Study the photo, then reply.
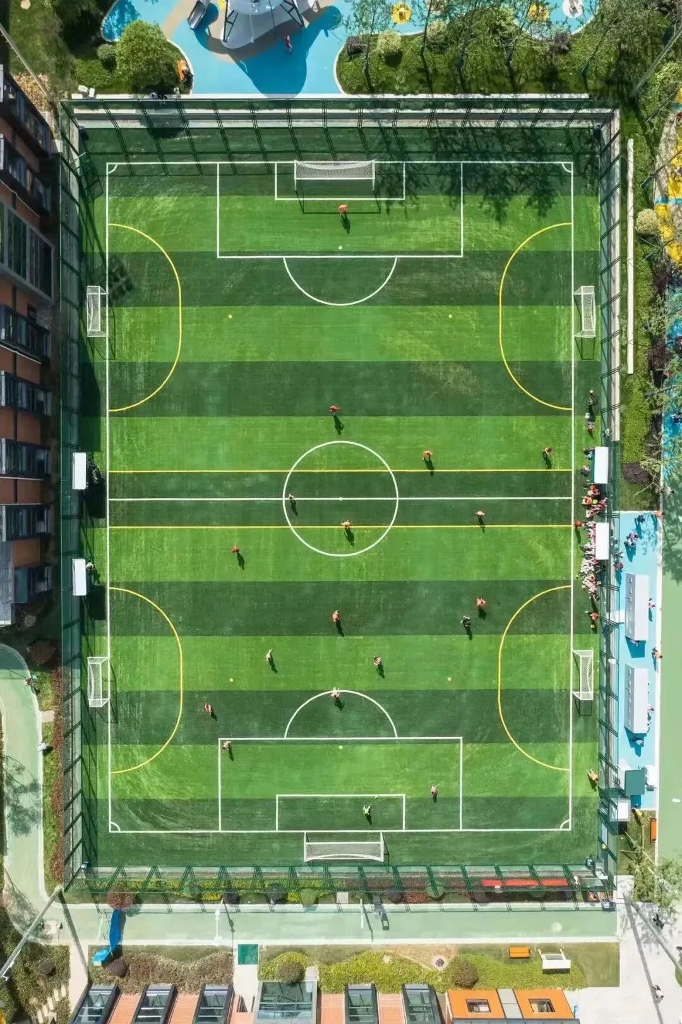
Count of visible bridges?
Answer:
zero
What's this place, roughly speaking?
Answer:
sports ground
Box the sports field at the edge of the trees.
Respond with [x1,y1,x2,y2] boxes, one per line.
[82,129,600,867]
